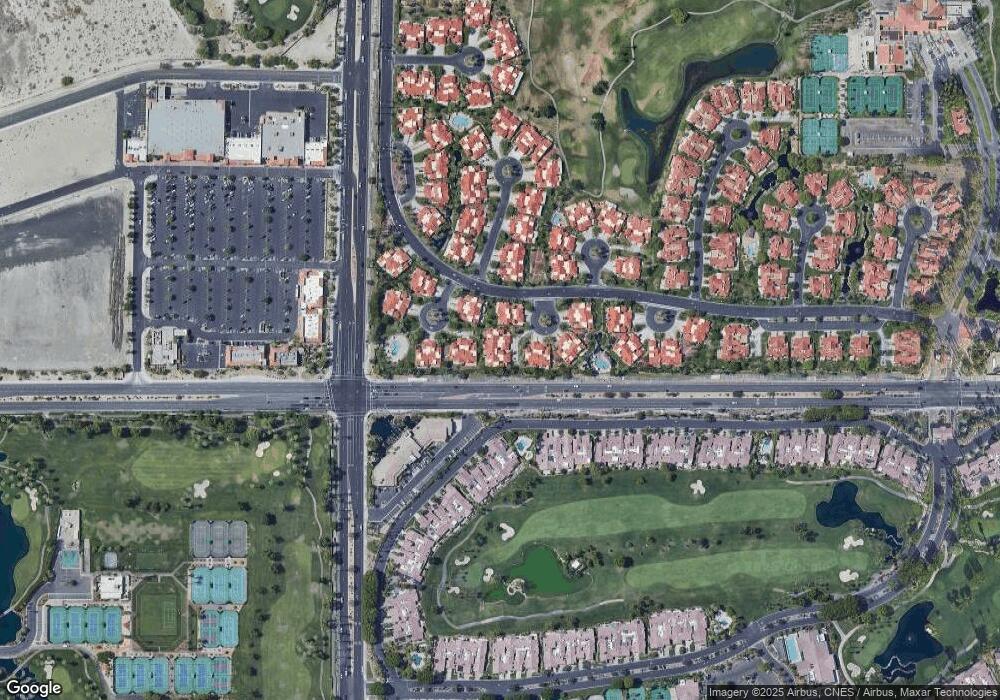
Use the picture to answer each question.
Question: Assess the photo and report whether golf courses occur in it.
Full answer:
Yes, you can see a golf course in this photo.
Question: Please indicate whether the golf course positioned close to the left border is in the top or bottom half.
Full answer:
The golf course positioned close to the left border sits in the bottom half of the picture.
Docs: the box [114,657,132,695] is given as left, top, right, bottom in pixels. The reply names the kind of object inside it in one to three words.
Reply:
tennis court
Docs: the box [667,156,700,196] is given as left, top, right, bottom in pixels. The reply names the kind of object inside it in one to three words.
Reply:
house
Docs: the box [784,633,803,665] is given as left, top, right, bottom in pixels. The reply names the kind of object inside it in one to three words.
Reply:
swimming pool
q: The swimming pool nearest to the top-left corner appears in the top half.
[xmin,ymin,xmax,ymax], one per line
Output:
[449,111,473,131]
